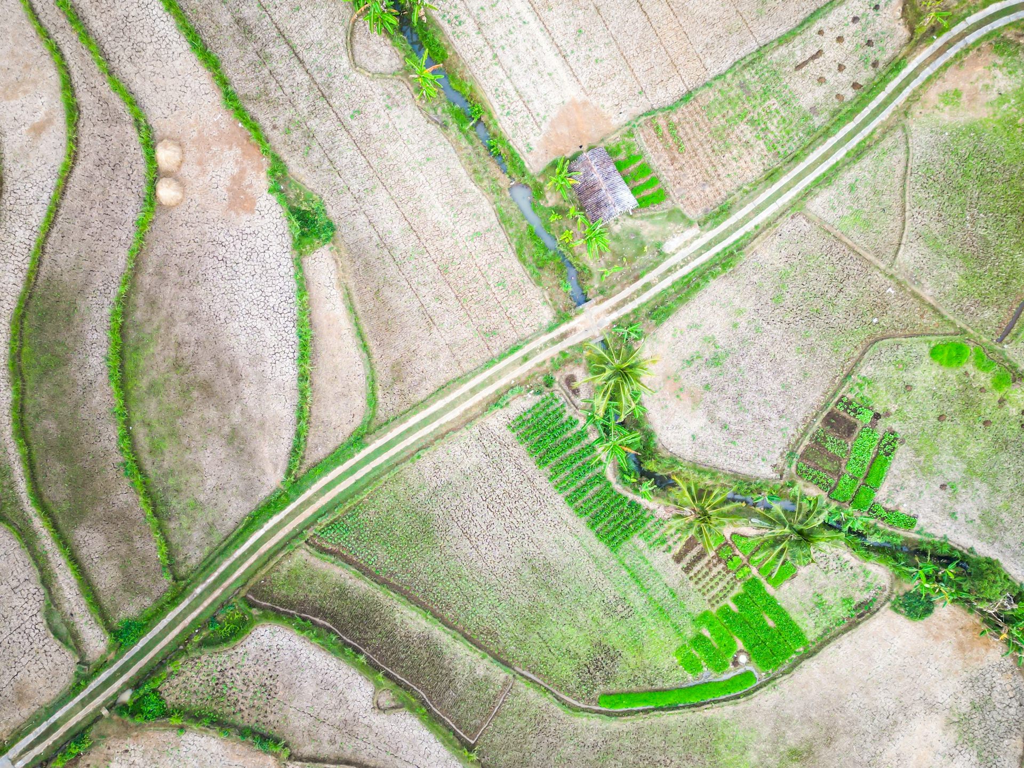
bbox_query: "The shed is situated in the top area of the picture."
[565,146,636,227]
